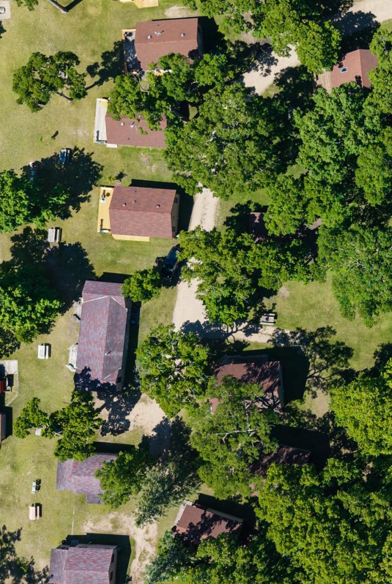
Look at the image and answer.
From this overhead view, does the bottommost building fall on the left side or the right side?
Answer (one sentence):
The bottommost building is on the left side of the image.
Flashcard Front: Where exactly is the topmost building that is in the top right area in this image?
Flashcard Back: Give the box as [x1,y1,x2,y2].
[313,46,379,93]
